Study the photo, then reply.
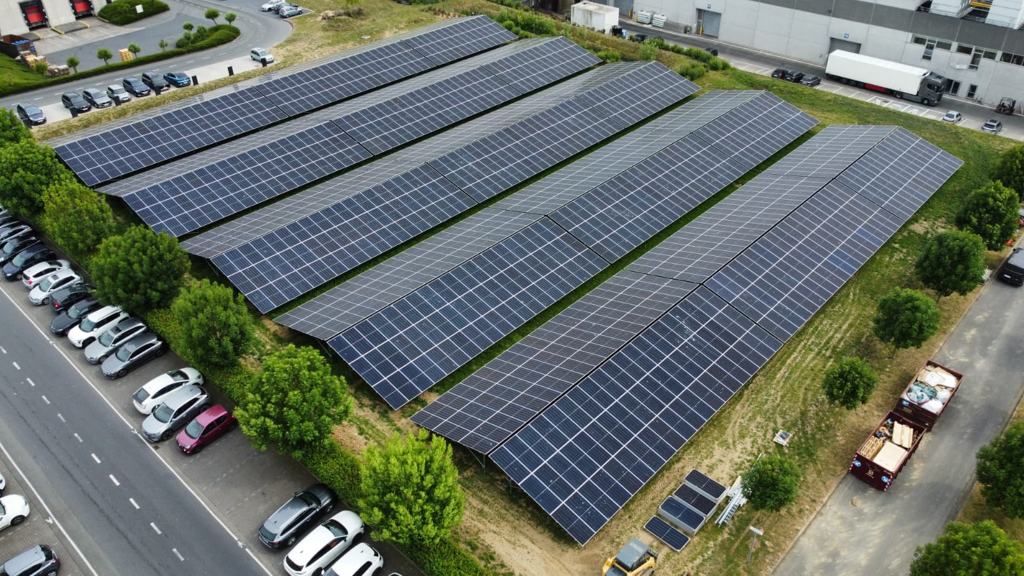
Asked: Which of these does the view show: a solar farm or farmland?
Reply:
solar farm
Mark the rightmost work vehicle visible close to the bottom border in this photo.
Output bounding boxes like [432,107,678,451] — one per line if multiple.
[601,538,662,576]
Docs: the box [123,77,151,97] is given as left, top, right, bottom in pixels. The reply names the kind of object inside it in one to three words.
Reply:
car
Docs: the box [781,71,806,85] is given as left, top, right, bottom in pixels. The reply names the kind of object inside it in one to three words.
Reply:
car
